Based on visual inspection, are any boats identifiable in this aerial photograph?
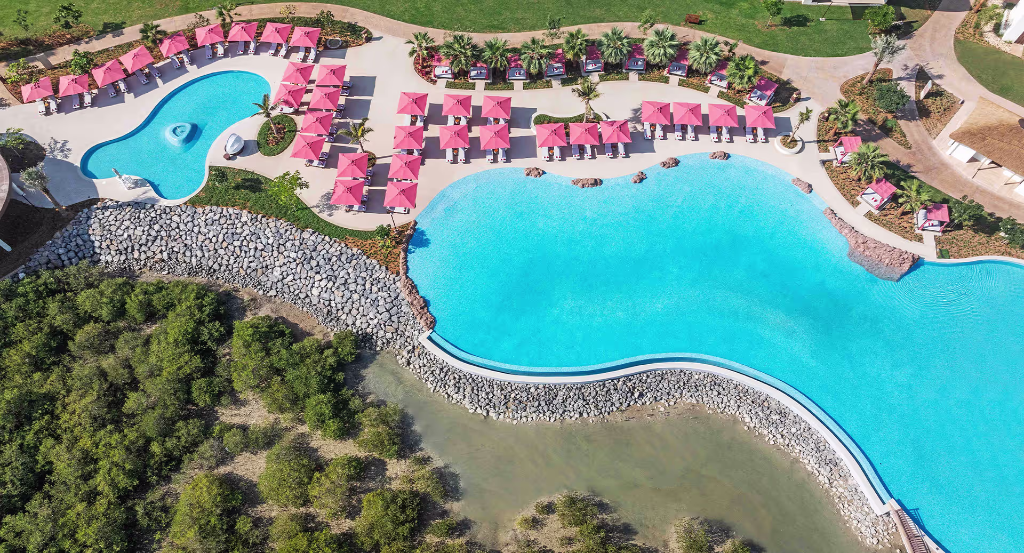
No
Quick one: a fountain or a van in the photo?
fountain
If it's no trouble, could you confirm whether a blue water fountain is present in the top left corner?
Yes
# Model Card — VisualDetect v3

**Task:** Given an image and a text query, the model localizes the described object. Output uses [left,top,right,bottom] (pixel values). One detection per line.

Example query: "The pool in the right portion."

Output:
[407,152,1024,553]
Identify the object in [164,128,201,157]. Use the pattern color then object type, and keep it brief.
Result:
blue fountain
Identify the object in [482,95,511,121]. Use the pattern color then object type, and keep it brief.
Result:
pink umbrella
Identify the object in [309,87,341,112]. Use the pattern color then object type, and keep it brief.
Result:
pink umbrella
